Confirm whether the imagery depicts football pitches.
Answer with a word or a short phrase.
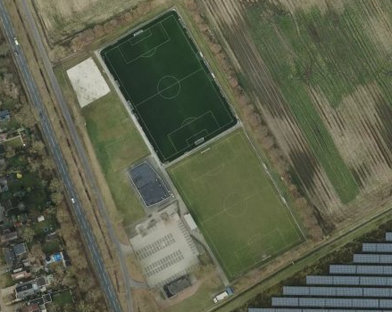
Yes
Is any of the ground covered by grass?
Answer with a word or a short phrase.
Yes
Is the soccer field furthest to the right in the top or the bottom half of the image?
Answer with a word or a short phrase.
bottom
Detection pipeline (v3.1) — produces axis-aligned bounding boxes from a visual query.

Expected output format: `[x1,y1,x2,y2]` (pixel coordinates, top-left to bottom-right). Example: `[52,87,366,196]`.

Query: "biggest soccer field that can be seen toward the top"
[103,14,236,160]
